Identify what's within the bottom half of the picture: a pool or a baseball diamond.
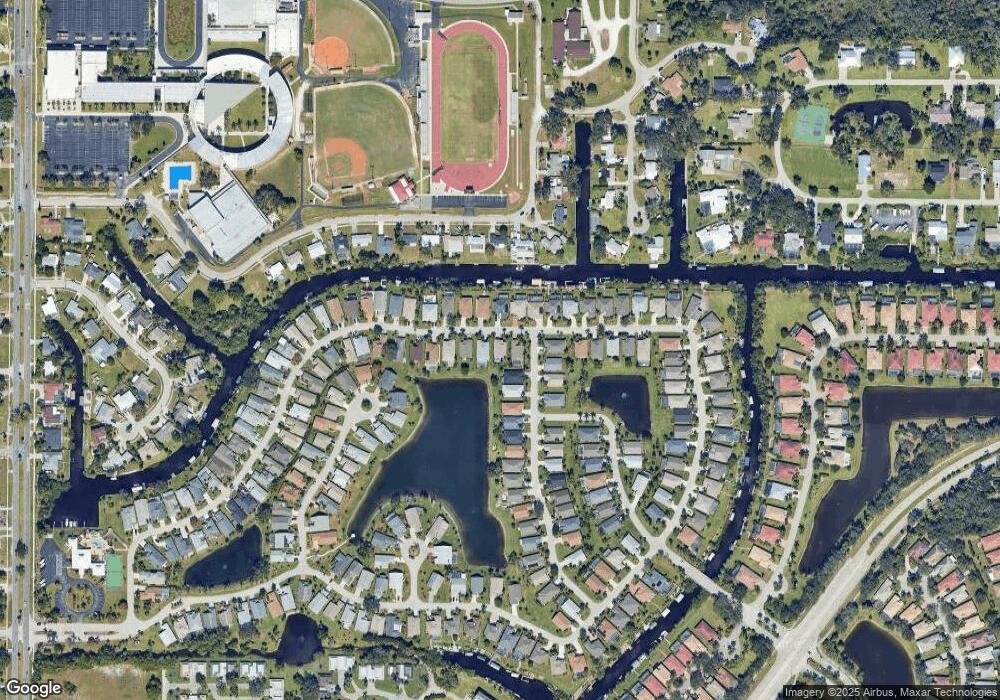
pool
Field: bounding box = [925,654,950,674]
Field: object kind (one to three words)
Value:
house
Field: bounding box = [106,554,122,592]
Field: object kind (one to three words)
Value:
tennis court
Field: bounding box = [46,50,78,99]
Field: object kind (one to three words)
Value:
building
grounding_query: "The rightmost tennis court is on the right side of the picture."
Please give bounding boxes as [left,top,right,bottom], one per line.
[795,106,828,141]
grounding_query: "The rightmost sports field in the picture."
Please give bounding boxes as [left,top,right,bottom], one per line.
[441,31,497,162]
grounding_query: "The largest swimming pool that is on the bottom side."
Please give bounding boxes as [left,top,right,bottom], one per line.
[79,533,110,562]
